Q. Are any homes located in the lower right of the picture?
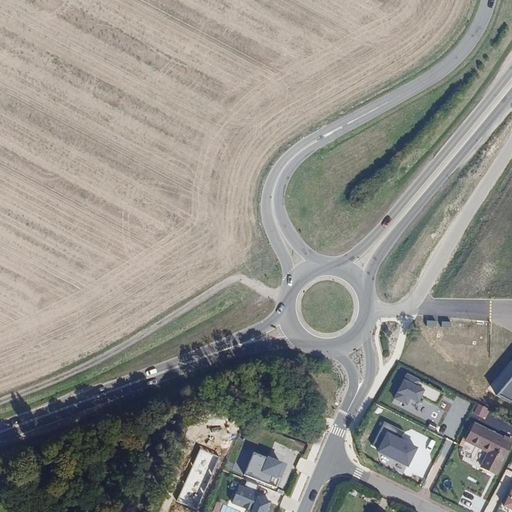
Yes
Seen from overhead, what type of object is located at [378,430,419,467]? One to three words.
house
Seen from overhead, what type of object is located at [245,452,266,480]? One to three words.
house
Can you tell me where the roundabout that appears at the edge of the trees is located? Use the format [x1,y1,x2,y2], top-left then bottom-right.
[281,260,374,354]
